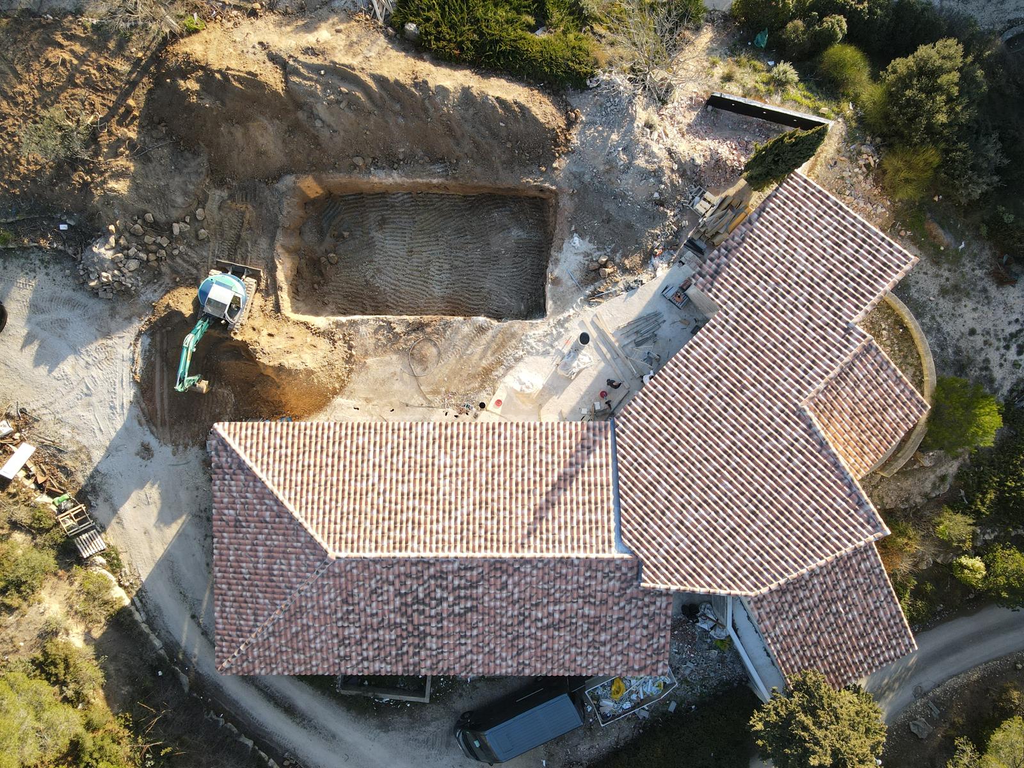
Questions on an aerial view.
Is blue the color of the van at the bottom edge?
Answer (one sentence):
Yes, the van at the bottom edge is blue.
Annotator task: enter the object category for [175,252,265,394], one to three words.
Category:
work vehicle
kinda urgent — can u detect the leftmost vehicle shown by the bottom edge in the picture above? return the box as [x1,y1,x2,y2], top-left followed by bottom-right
[454,675,584,768]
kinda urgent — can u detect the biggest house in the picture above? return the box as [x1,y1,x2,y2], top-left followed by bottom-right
[211,172,931,709]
